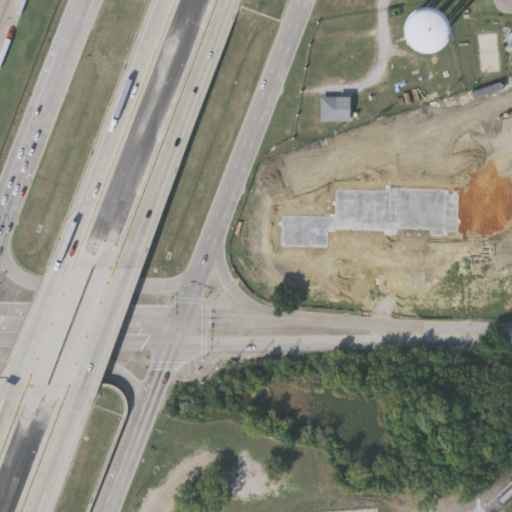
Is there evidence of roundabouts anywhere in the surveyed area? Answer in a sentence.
No, I can see no roundabout in this picture.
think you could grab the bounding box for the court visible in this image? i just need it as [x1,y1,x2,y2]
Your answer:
[478,33,500,73]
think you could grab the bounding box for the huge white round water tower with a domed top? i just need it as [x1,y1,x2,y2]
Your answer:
[405,7,452,54]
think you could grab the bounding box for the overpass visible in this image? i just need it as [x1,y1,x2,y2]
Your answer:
[0,266,144,385]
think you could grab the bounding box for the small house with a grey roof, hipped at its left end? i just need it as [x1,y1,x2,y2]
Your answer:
[321,98,352,122]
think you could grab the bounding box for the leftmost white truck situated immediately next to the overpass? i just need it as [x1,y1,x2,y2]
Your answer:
[54,222,76,272]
